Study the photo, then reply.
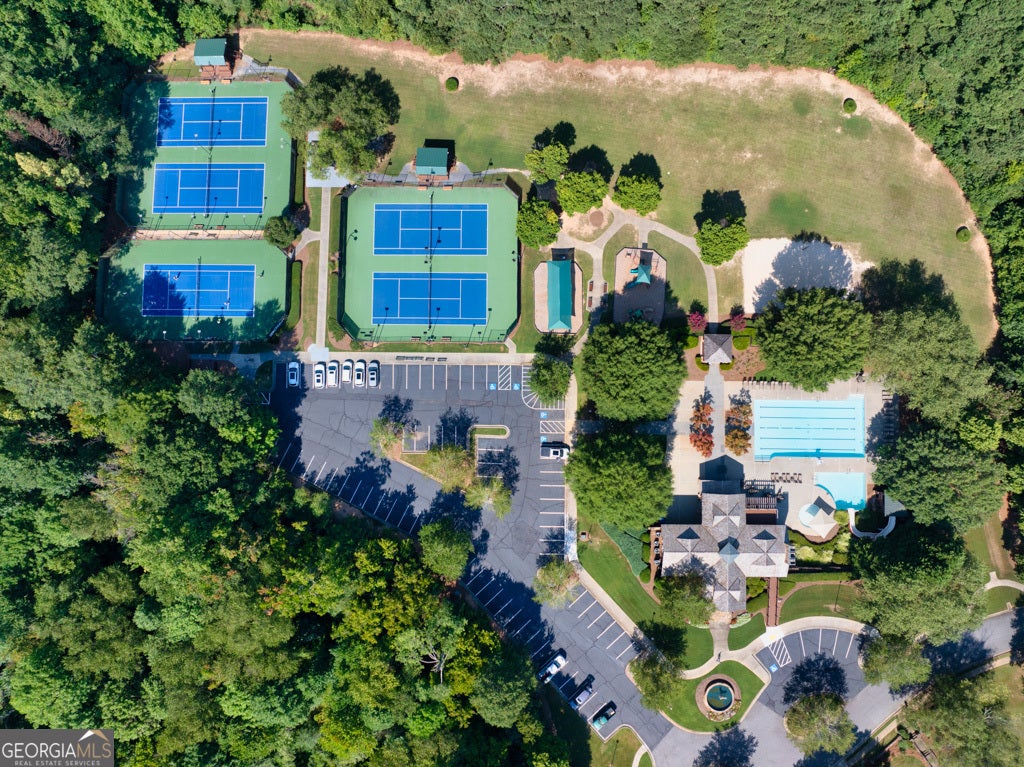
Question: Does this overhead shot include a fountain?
Yes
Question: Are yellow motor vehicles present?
No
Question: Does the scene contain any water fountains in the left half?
No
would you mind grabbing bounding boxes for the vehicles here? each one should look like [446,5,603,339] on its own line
[314,365,326,389]
[541,448,569,458]
[569,686,592,709]
[343,361,353,383]
[539,655,565,684]
[354,362,366,386]
[592,706,616,729]
[288,362,300,386]
[368,362,379,386]
[327,361,339,386]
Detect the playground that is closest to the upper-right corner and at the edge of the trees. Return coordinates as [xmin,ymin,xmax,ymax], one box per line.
[613,246,668,338]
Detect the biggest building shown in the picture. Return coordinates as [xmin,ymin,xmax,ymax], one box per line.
[657,480,791,613]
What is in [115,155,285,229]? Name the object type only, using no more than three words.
tennis court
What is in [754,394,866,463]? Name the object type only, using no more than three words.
swimming pool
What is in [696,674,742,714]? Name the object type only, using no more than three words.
fountain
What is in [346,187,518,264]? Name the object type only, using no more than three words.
tennis court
